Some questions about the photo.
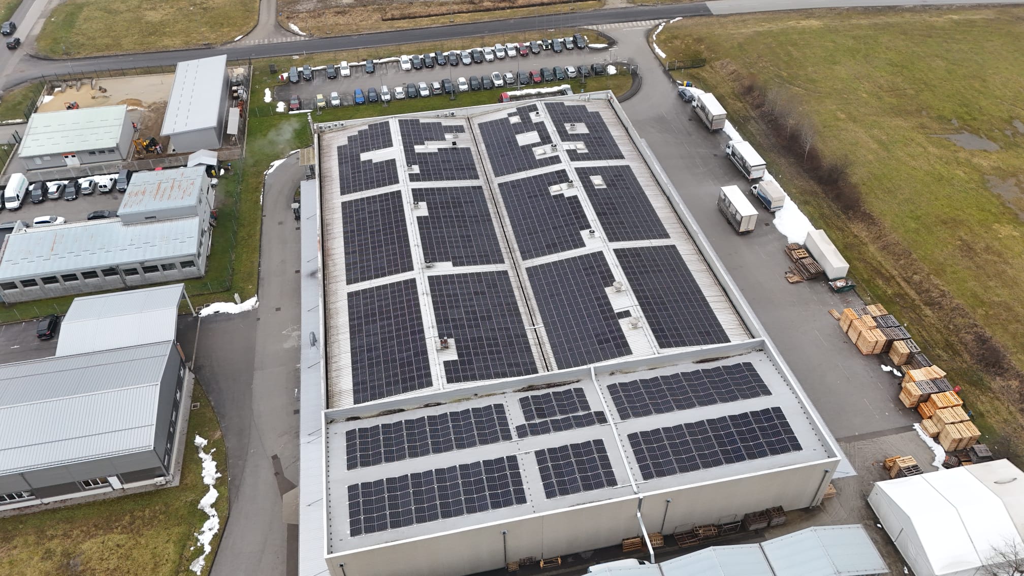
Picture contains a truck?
Yes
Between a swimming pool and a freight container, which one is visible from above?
freight container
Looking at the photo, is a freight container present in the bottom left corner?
No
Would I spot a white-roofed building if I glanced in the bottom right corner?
Yes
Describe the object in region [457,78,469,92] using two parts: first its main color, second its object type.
white vehicle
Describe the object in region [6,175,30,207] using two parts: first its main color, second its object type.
white vehicle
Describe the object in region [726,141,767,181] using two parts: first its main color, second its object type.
white truck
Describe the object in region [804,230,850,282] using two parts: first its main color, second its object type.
white shipping container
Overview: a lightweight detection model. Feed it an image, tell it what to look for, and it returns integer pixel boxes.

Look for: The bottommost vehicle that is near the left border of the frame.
[36,314,61,342]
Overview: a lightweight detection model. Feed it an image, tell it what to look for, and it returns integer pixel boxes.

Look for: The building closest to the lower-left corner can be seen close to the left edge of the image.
[0,340,193,516]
